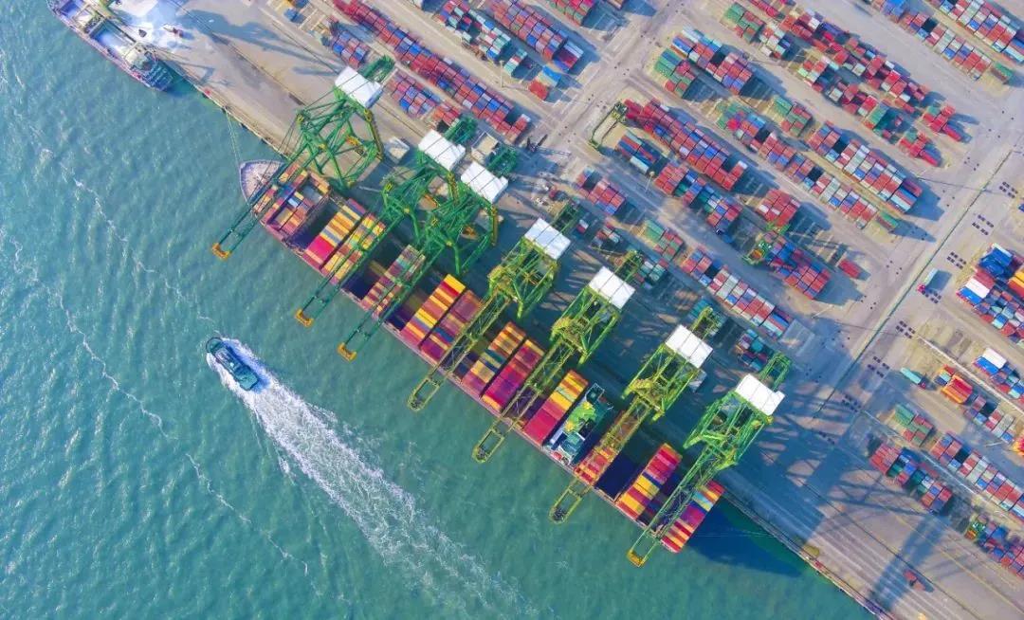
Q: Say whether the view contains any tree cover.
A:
No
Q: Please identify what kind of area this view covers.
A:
port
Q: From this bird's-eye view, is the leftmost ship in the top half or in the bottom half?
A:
top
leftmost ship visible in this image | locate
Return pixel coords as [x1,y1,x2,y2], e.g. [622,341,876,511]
[35,0,208,96]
